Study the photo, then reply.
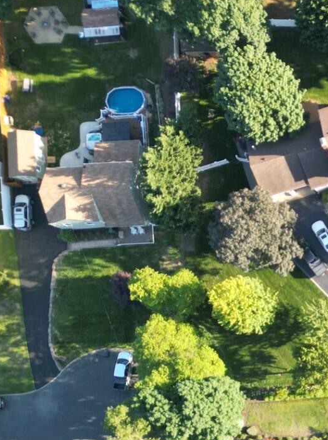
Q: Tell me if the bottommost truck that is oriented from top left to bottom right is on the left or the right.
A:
right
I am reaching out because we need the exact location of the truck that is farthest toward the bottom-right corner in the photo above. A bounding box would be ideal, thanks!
[296,242,328,283]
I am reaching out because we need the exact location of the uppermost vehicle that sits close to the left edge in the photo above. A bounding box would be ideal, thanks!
[13,195,34,231]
